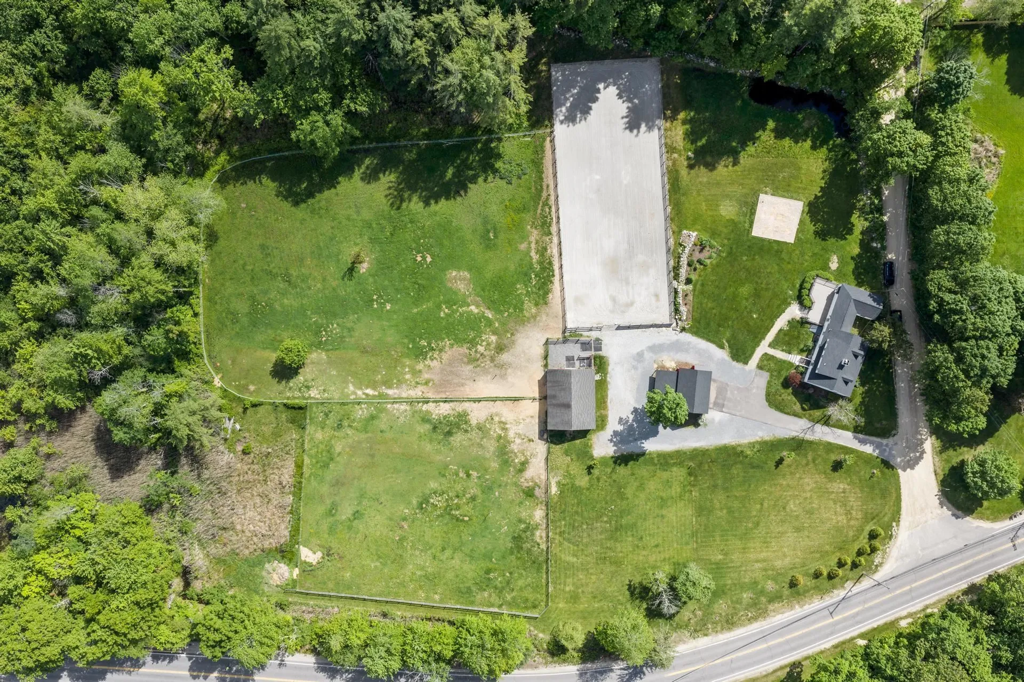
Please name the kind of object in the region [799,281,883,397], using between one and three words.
house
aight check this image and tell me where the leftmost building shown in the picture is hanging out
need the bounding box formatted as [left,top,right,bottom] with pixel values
[547,370,595,431]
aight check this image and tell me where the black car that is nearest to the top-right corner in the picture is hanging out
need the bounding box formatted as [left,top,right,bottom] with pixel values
[881,261,894,284]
